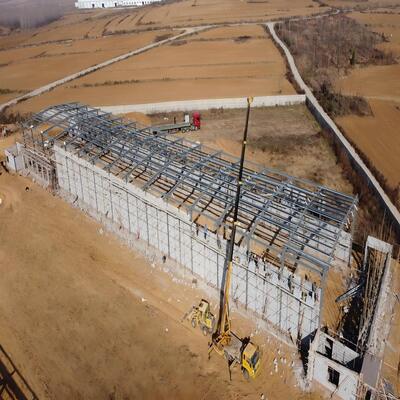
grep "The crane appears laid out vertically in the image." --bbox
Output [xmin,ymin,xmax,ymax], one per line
[202,99,264,377]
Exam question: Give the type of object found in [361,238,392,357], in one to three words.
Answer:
building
